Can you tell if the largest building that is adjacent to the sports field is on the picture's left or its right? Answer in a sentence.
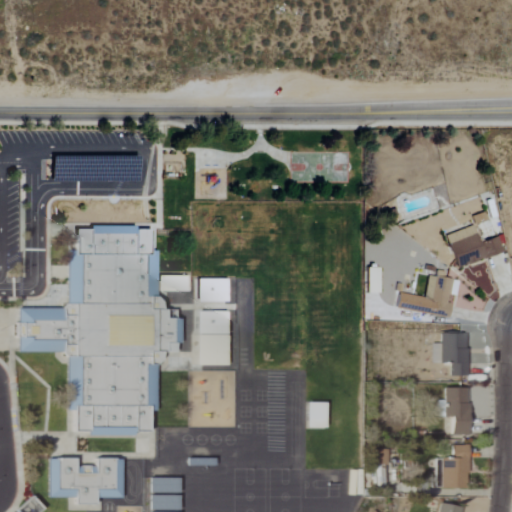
The largest building that is adjacent to the sports field appears in the left half of the scene.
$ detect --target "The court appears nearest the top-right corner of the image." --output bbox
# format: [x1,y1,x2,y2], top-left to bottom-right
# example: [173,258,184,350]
[291,152,353,183]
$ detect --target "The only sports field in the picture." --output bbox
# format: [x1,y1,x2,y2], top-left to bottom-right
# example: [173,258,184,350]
[194,201,362,469]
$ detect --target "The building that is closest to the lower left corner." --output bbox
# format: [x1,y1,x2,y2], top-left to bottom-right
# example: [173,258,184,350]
[50,458,124,504]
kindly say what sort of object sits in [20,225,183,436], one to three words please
building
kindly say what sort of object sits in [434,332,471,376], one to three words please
house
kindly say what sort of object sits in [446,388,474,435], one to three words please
house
